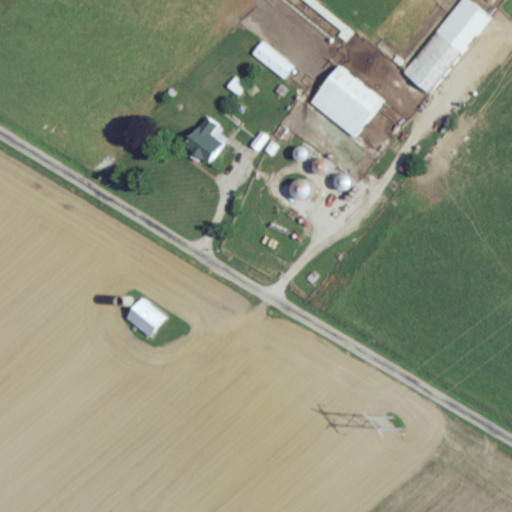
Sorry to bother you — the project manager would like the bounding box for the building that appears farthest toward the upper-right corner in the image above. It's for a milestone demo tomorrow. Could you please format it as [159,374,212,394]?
[436,0,494,56]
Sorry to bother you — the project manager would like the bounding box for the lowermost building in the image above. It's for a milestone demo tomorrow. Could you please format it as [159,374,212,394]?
[126,296,168,338]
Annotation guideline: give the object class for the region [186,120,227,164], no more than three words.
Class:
house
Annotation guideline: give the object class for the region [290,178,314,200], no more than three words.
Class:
silo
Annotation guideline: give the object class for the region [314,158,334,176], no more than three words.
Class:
silo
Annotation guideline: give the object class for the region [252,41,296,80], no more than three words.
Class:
shed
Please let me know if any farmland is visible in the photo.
Yes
